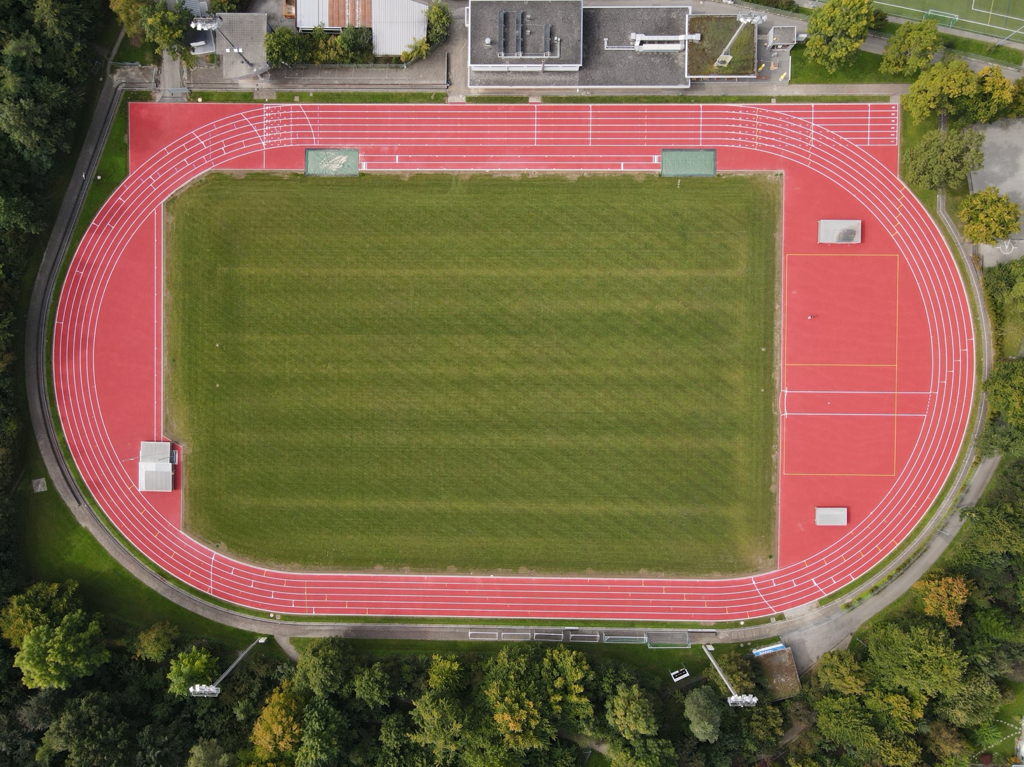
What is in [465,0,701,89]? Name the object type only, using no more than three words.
building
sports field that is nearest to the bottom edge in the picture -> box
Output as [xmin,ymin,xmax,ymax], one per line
[141,170,783,580]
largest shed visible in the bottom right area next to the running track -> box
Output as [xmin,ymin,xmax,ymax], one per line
[750,641,802,702]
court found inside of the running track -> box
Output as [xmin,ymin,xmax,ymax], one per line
[784,255,899,475]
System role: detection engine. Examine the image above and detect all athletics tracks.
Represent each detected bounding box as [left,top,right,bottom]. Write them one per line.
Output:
[53,100,976,622]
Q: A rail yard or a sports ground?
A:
sports ground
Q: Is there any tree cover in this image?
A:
Yes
